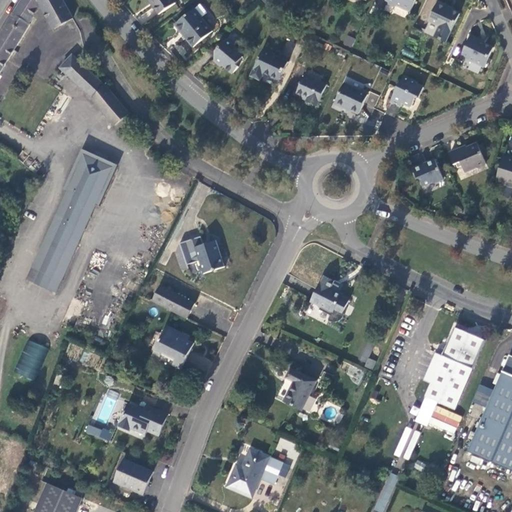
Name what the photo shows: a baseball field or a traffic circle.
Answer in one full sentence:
There is a traffic circle in the scene.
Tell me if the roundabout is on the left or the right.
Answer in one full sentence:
The roundabout sits on the right side.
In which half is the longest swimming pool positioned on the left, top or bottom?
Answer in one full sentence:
The longest swimming pool positioned on the left is in the bottom half of the image.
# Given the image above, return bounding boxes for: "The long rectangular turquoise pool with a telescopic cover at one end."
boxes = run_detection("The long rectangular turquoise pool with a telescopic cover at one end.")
[97,388,119,425]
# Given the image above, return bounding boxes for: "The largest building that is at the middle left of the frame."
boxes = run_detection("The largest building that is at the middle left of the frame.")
[26,150,117,293]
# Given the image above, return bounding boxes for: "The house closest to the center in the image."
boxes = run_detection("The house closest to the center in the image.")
[180,238,226,276]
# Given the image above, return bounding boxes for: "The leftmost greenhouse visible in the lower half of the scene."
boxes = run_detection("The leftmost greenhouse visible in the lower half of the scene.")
[17,342,52,382]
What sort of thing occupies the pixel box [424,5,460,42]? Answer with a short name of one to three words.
house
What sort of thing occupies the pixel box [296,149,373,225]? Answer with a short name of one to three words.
roundabout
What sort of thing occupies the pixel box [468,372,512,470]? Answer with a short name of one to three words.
building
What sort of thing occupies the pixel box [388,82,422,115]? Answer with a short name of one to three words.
house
